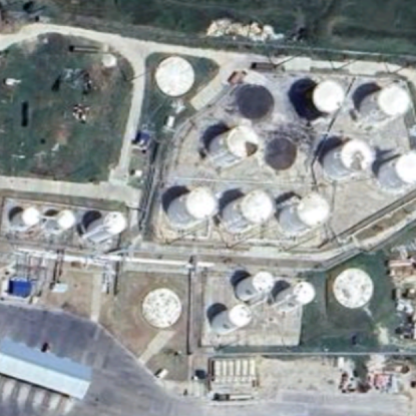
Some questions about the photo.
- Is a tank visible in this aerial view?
Yes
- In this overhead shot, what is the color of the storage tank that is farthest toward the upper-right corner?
white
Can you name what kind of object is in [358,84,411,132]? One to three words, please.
storage tank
